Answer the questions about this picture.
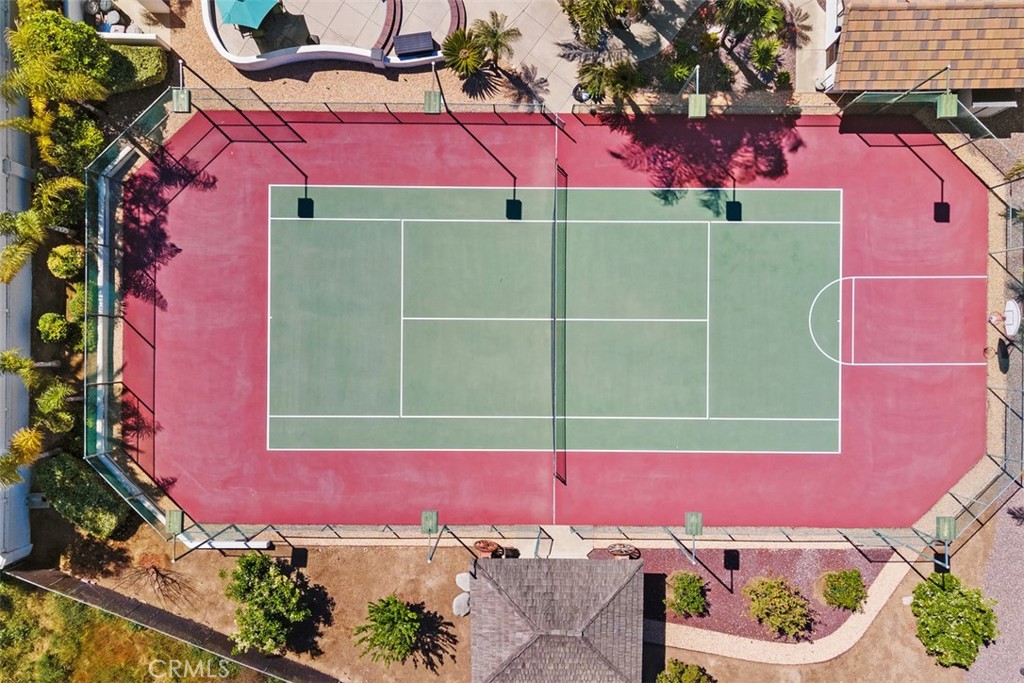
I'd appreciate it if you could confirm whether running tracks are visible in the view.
No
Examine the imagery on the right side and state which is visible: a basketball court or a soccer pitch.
basketball court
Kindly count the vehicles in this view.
0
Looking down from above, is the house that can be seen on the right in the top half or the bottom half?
top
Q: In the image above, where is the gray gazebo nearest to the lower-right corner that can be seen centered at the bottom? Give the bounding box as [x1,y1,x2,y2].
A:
[471,546,645,683]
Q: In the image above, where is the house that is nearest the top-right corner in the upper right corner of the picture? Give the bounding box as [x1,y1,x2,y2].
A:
[824,0,1024,93]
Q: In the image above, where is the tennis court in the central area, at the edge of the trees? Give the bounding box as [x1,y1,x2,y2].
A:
[122,110,989,528]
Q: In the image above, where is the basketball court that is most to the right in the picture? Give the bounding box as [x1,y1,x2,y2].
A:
[808,276,988,365]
